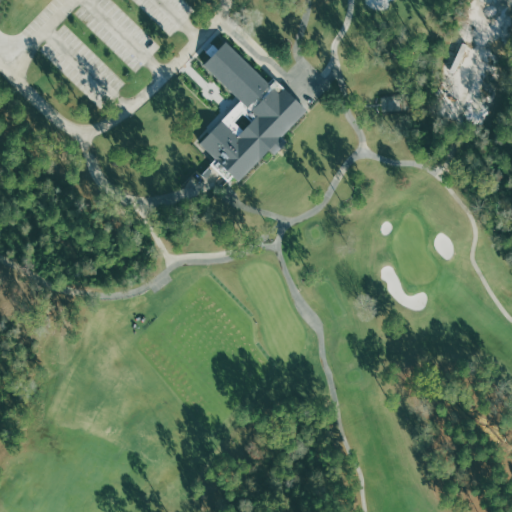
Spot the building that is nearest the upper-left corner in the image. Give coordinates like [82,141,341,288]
[202,43,307,180]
